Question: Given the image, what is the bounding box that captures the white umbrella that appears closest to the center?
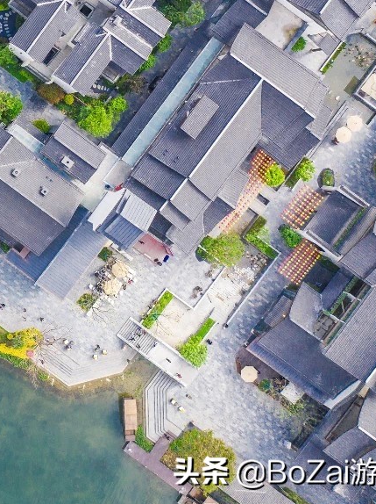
[111,259,129,278]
